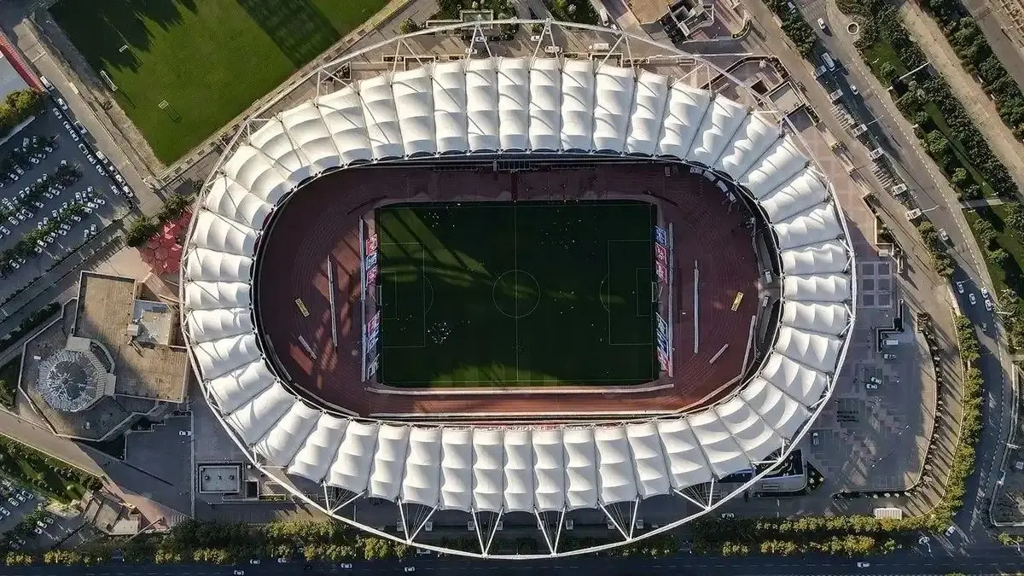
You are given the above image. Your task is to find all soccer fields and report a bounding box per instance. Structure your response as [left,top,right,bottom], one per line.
[49,0,388,164]
[377,201,658,387]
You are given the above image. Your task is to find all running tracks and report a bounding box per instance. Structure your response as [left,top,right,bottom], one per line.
[257,158,764,421]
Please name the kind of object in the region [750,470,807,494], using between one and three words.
building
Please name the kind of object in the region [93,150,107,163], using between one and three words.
vehicle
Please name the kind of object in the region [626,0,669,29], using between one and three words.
building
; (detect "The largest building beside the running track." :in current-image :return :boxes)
[69,270,195,404]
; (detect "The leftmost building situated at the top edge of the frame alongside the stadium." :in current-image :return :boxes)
[462,10,492,30]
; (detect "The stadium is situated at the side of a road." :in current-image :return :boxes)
[178,18,856,558]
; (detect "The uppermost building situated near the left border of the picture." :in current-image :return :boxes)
[0,32,48,108]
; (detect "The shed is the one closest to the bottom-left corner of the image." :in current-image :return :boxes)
[46,500,86,518]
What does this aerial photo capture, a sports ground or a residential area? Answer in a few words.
sports ground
